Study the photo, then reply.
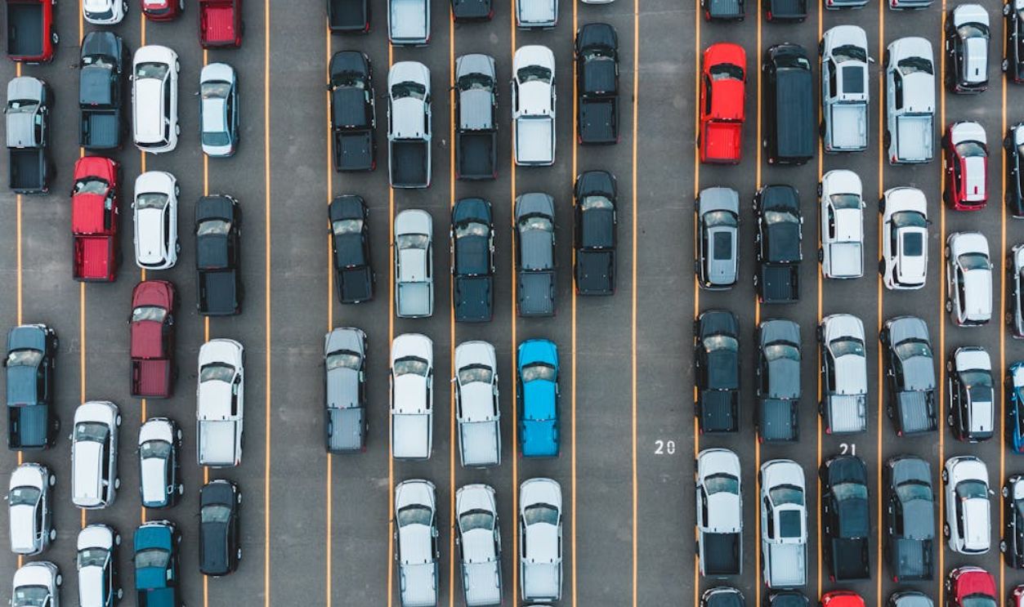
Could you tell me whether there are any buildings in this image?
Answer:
No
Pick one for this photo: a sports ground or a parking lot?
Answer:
parking lot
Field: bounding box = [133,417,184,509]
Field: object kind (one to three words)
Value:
car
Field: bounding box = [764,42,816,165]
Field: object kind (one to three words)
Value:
van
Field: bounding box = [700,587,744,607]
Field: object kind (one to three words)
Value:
vehicle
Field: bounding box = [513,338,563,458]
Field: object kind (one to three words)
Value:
truck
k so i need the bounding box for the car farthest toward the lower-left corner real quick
[7,560,59,607]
